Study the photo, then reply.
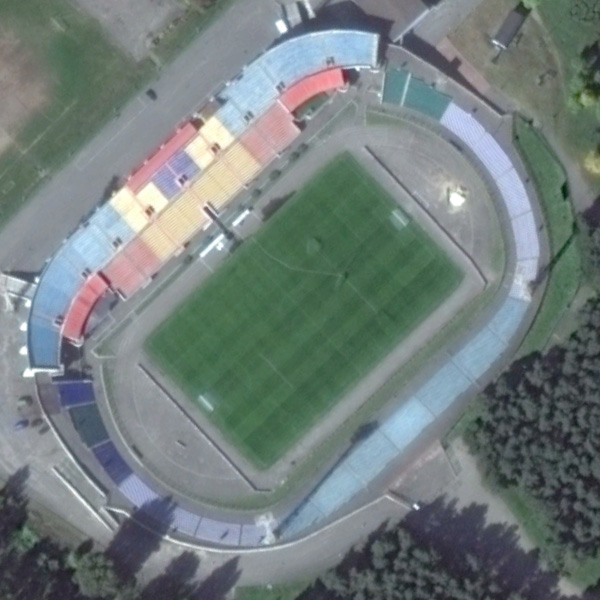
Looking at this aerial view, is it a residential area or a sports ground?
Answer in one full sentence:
This looks like a sports ground.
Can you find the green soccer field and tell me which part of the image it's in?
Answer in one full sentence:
The green soccer field appears toward the center of the photo.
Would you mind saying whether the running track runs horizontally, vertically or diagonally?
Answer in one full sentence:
The running track is laid out diagonally.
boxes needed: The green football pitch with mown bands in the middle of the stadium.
[142,154,468,468]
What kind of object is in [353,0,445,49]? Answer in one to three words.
building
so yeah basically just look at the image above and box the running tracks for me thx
[107,118,496,504]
